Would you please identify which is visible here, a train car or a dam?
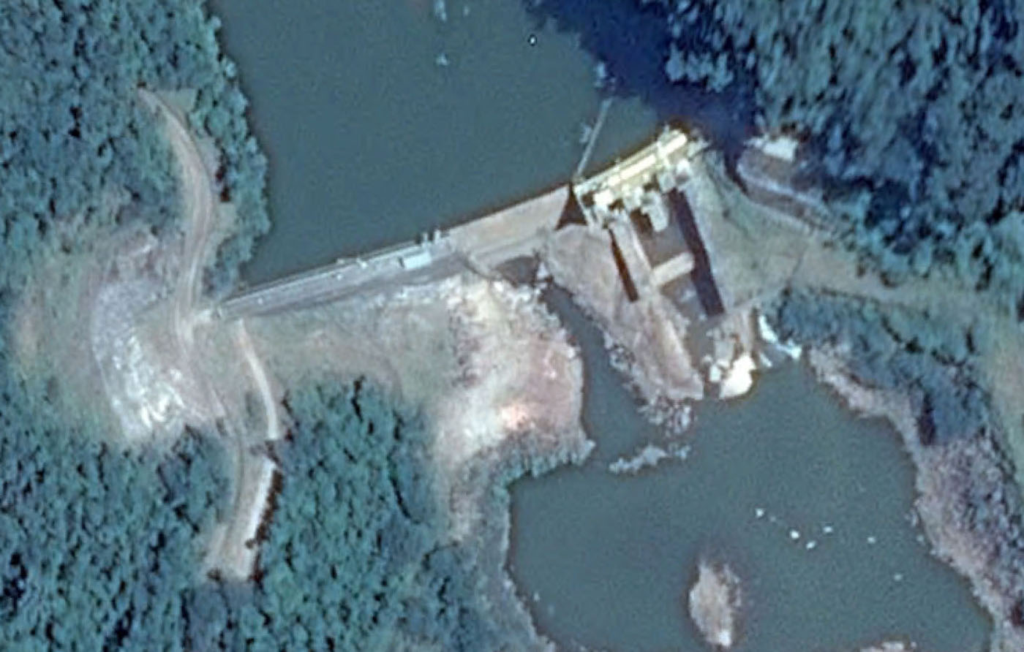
dam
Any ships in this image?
No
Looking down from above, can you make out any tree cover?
Yes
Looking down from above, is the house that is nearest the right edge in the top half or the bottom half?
top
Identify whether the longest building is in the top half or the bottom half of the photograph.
top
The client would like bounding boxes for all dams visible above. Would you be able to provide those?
[215,183,587,320]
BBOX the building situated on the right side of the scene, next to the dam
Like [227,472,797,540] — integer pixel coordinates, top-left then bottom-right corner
[573,123,693,232]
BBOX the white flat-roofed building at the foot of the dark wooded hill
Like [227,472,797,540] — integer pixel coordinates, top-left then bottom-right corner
[746,136,799,161]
